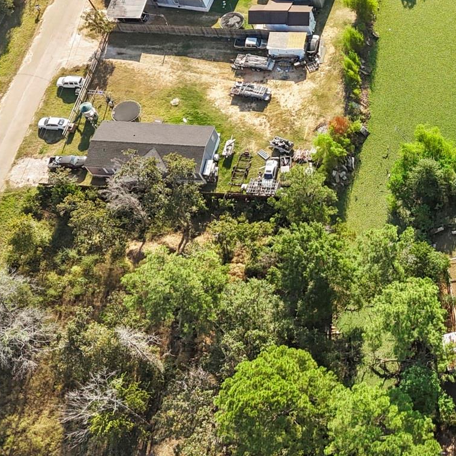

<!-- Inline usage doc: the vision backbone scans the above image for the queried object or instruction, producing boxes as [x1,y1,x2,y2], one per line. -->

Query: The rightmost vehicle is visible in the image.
[306,34,322,56]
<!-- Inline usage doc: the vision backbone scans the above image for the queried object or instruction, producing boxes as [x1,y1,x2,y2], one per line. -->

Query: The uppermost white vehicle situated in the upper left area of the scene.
[55,76,86,91]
